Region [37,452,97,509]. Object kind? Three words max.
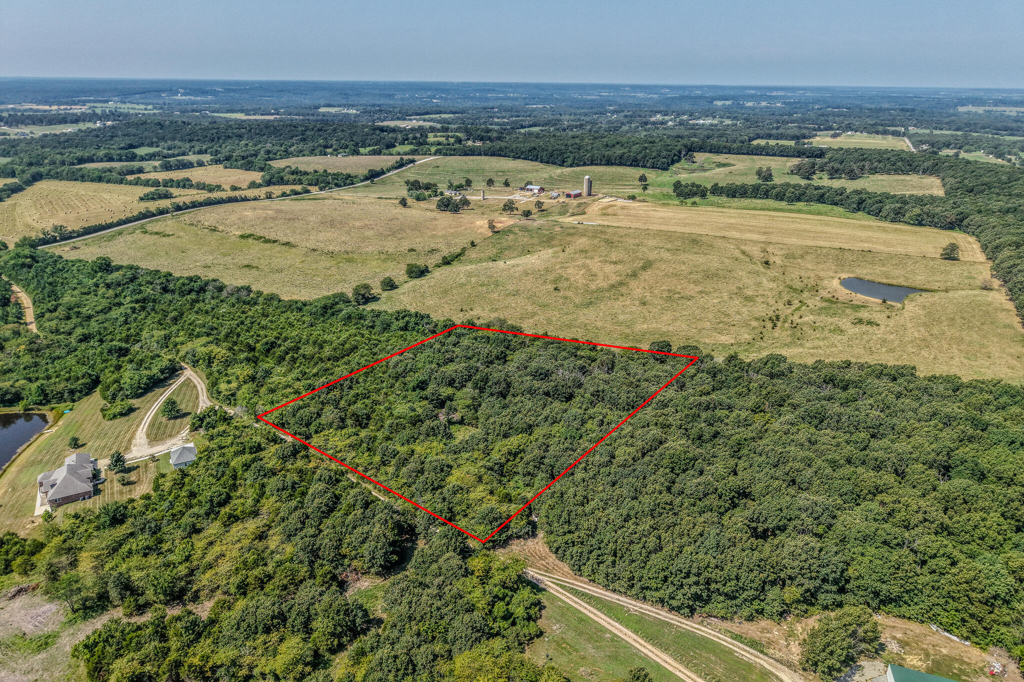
house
